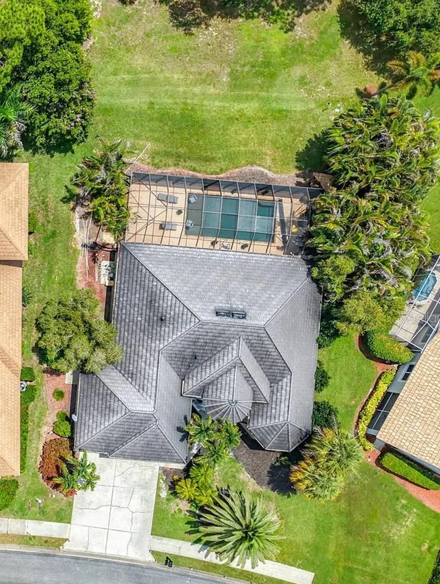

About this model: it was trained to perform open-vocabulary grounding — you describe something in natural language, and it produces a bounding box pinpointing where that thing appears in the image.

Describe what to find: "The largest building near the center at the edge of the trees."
[72,241,323,464]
